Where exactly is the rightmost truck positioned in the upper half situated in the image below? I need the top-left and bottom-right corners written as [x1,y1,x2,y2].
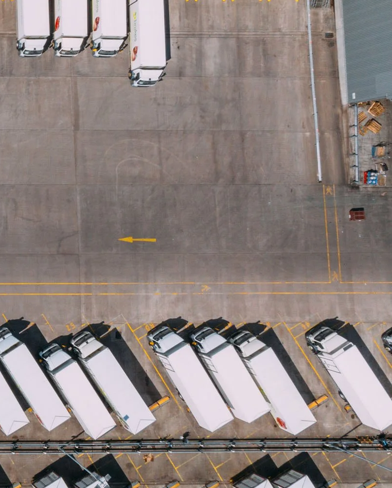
[126,0,166,91]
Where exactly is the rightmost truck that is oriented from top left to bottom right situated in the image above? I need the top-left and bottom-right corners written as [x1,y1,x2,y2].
[303,325,392,431]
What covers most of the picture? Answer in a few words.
paved ground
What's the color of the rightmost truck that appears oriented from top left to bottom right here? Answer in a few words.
white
